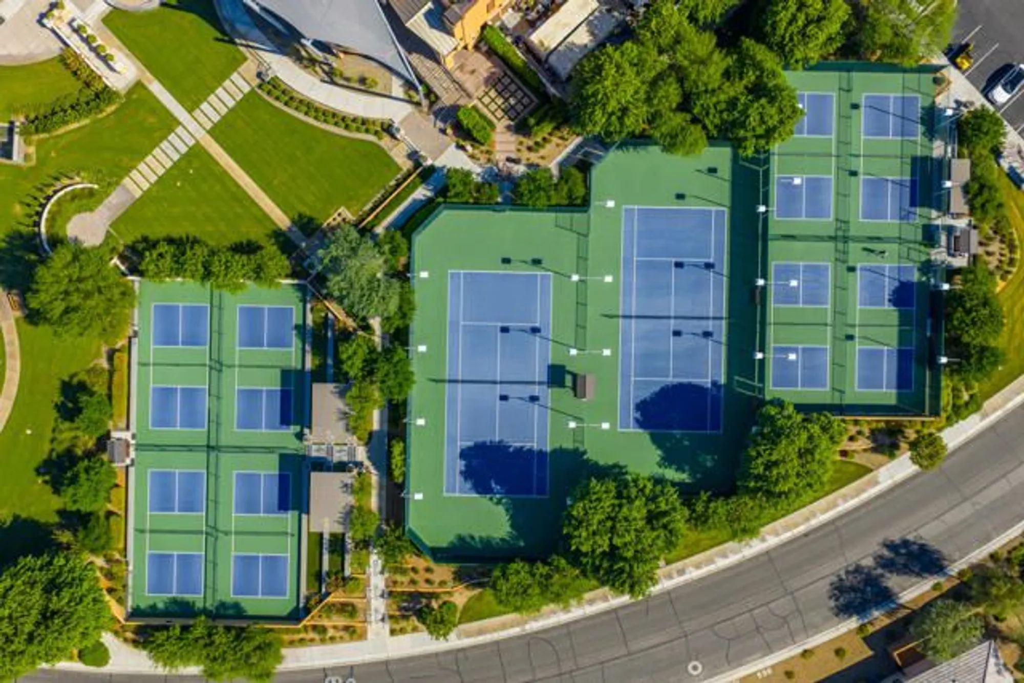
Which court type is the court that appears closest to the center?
tennis court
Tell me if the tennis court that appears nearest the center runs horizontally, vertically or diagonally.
vertically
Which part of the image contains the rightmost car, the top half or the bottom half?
top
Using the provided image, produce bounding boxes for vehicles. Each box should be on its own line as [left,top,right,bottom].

[994,65,1024,102]
[953,42,983,71]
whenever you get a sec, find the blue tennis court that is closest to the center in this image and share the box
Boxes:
[444,271,553,497]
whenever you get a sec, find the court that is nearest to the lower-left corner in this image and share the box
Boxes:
[146,470,207,598]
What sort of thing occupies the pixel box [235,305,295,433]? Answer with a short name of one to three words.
sports court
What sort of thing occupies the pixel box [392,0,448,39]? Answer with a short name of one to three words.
building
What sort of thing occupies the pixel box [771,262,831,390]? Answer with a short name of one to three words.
sports court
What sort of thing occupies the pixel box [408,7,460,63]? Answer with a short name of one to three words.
building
